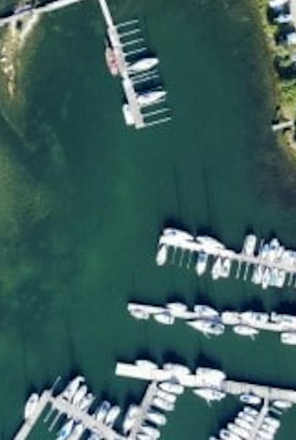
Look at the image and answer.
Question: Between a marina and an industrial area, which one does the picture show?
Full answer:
The area seen from above is a marina.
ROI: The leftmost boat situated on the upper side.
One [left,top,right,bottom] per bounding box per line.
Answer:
[106,49,119,78]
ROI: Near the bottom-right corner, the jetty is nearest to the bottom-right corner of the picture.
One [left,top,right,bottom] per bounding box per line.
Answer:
[248,396,270,440]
